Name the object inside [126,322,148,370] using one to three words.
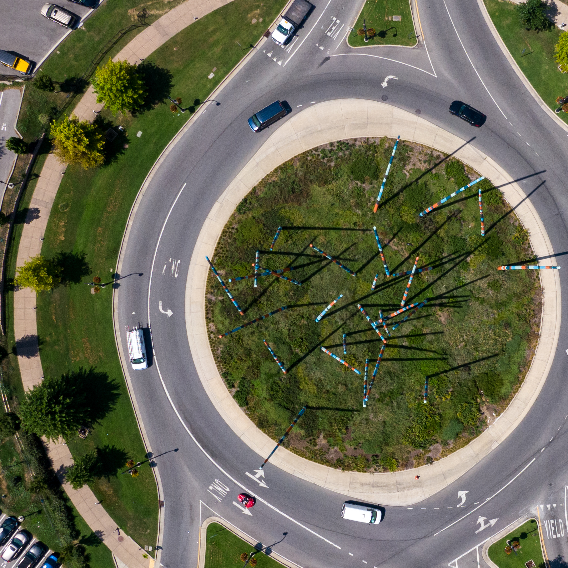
vehicle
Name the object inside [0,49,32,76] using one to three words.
car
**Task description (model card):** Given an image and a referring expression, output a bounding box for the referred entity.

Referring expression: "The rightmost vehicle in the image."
[450,103,485,127]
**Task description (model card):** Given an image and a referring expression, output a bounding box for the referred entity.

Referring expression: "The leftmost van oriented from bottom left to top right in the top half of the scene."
[248,99,288,132]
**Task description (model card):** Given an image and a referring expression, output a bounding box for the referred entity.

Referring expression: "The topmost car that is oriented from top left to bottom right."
[41,2,76,31]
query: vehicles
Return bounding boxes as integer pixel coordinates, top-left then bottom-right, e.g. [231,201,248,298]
[18,540,50,568]
[0,516,19,549]
[248,99,288,132]
[67,0,98,9]
[450,103,485,127]
[340,502,383,523]
[1,530,32,565]
[273,0,315,44]
[41,2,76,31]
[0,49,32,76]
[238,493,257,510]
[126,322,148,370]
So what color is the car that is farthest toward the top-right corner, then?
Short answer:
black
